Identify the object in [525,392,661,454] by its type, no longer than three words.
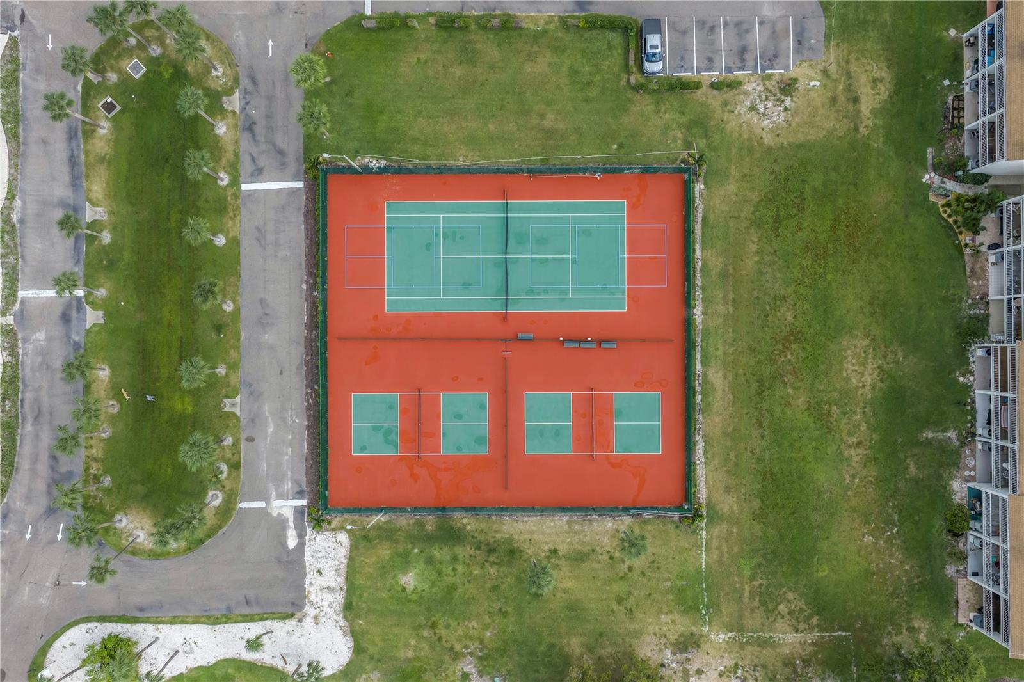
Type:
sports court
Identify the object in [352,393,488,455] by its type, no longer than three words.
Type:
sports court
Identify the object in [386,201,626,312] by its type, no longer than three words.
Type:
tennis court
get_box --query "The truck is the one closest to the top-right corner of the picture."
[641,18,666,75]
